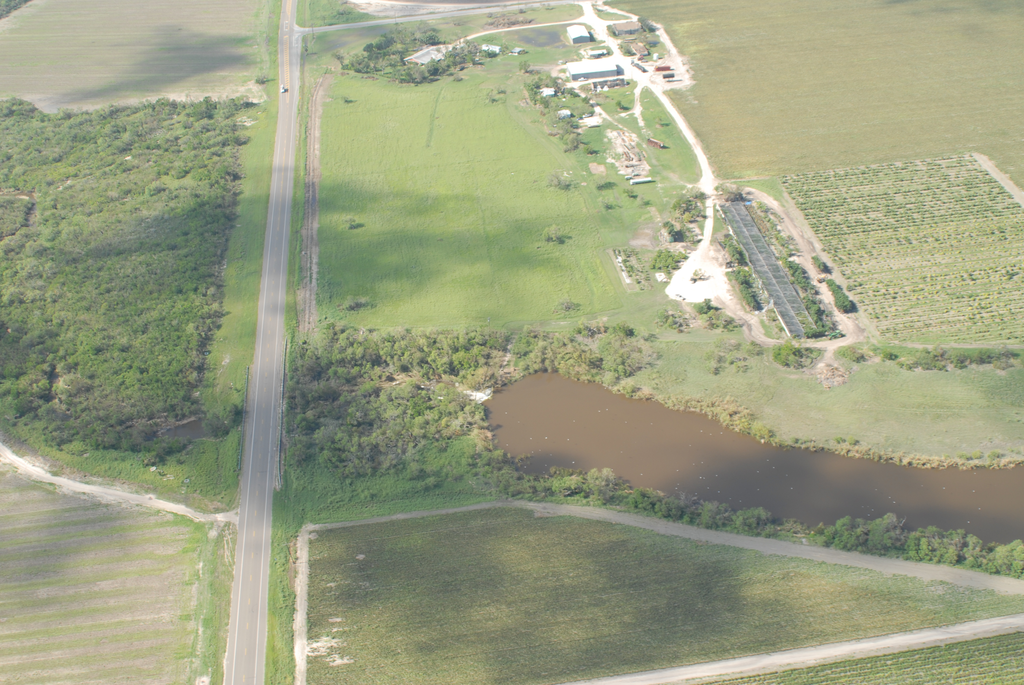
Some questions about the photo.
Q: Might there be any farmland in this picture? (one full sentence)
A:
Yes, there's farmland in this view.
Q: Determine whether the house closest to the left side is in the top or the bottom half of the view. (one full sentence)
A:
The house closest to the left side is in the top half of the image.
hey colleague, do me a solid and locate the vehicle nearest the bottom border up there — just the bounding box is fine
[825,328,842,340]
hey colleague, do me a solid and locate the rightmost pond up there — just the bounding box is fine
[486,372,1024,553]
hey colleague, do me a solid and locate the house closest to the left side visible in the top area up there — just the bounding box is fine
[404,40,463,67]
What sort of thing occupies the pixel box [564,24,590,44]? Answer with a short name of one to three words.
barn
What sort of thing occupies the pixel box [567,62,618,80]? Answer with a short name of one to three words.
shed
